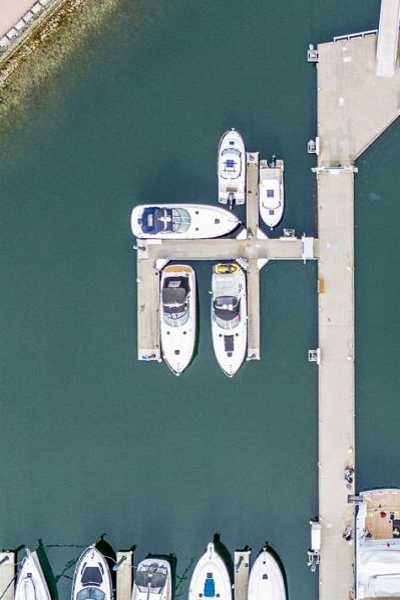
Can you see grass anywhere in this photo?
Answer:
No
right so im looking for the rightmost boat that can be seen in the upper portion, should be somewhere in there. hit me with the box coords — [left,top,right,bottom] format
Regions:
[258,157,284,232]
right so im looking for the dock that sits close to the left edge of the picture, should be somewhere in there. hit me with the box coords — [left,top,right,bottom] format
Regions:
[0,551,17,600]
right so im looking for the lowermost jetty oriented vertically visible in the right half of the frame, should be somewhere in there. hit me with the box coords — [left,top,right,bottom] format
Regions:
[234,550,252,600]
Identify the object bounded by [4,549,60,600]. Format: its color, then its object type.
white boat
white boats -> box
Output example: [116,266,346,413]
[158,265,196,379]
[353,485,400,600]
[132,556,172,600]
[218,125,250,209]
[188,541,236,600]
[212,263,251,380]
[258,157,284,232]
[132,204,244,242]
[246,546,288,600]
[4,549,60,600]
